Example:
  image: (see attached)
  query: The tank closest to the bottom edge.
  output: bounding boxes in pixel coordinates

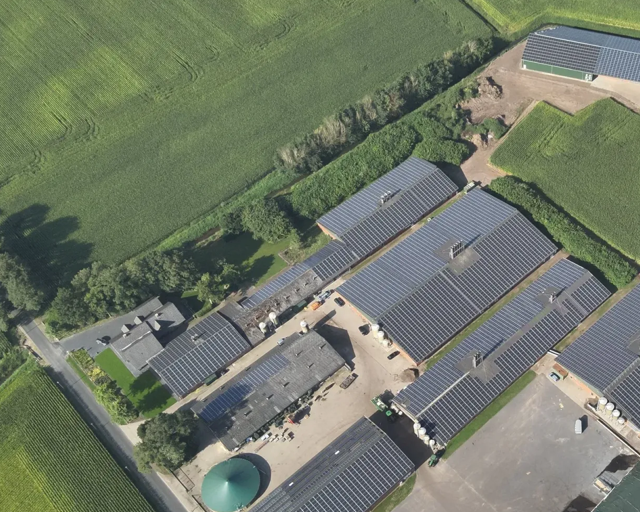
[200,458,262,512]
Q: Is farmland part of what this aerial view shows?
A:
Yes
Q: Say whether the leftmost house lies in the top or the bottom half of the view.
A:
bottom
